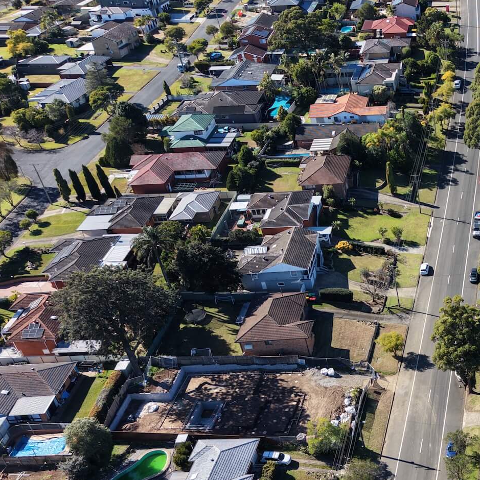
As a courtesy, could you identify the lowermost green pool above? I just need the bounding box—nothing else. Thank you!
[109,448,171,480]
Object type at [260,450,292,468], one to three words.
car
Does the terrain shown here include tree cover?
Yes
